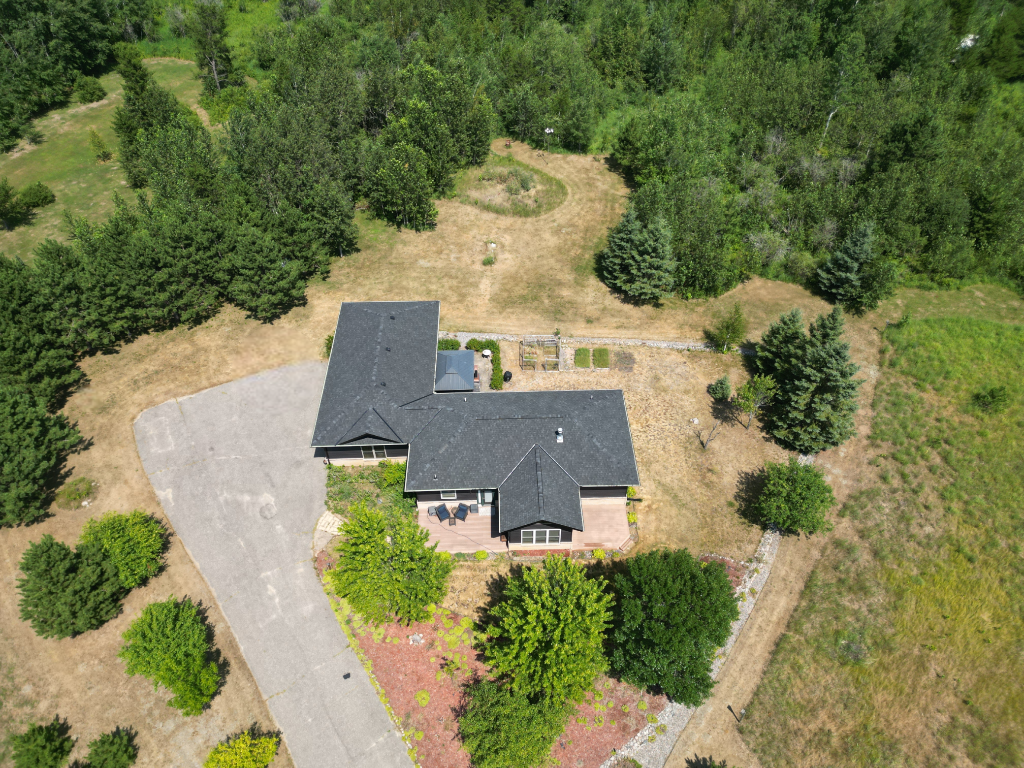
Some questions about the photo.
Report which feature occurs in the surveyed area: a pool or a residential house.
residential house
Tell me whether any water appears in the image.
No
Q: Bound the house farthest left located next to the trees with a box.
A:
[310,300,641,552]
